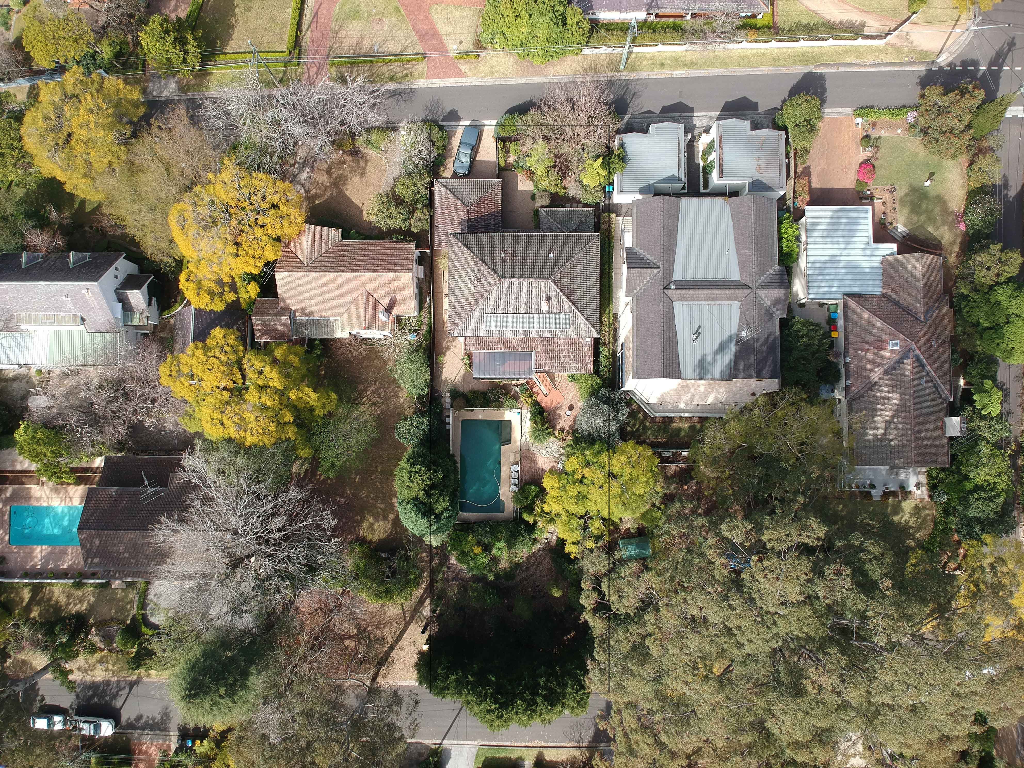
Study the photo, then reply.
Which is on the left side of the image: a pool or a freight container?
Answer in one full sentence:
It is a pool that can be seen on the left side of the image.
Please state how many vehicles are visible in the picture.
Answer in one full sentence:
I count 3 vehicles.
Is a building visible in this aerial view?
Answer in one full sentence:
Yes, this view includes a building.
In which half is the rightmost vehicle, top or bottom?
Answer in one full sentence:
You can find the rightmost vehicle in the top half.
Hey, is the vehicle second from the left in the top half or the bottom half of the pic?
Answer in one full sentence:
The vehicle second from the left sits in the bottom half of the picture.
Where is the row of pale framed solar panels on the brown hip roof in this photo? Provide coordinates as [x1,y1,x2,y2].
[485,313,571,330]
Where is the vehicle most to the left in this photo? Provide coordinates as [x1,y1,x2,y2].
[25,714,63,735]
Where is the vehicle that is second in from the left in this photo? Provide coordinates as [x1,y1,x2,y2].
[64,716,115,742]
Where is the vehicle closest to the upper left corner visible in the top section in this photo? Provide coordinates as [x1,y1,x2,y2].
[455,123,481,175]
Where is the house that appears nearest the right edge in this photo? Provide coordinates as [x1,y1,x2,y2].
[803,205,964,468]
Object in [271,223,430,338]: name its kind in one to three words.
house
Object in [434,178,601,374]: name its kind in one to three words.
house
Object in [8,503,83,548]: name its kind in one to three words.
swimming pool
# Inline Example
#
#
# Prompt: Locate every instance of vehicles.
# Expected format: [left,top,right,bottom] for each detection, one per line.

[64,716,115,742]
[25,714,63,735]
[455,123,481,175]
